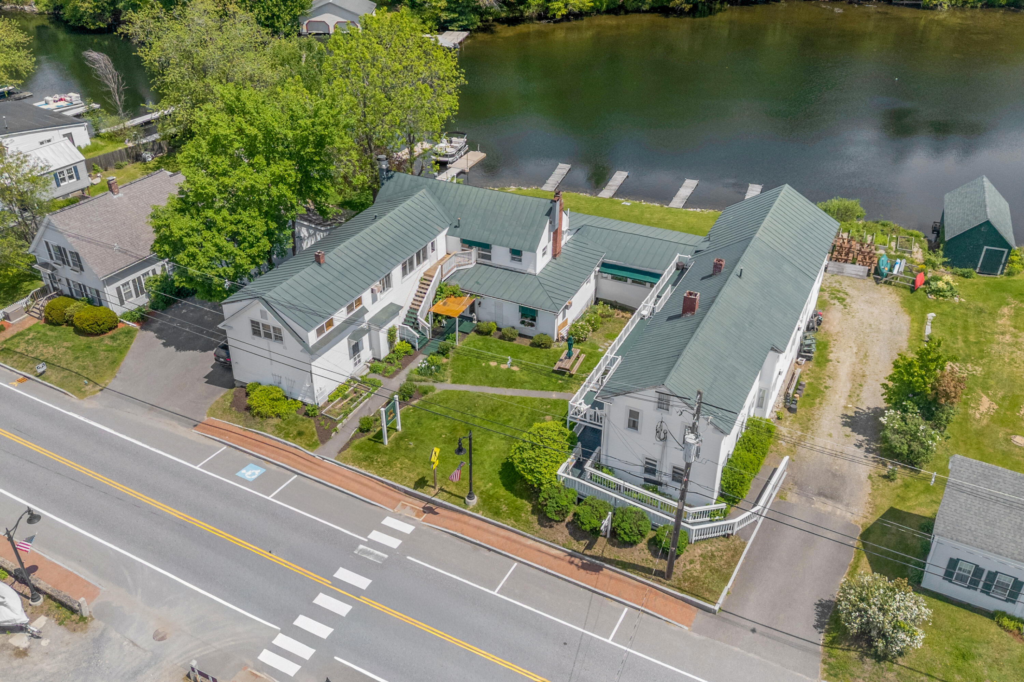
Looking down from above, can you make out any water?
Yes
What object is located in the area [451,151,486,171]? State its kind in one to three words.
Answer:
pier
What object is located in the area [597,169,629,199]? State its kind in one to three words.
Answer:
pier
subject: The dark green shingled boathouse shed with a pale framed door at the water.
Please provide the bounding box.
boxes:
[932,175,1015,278]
